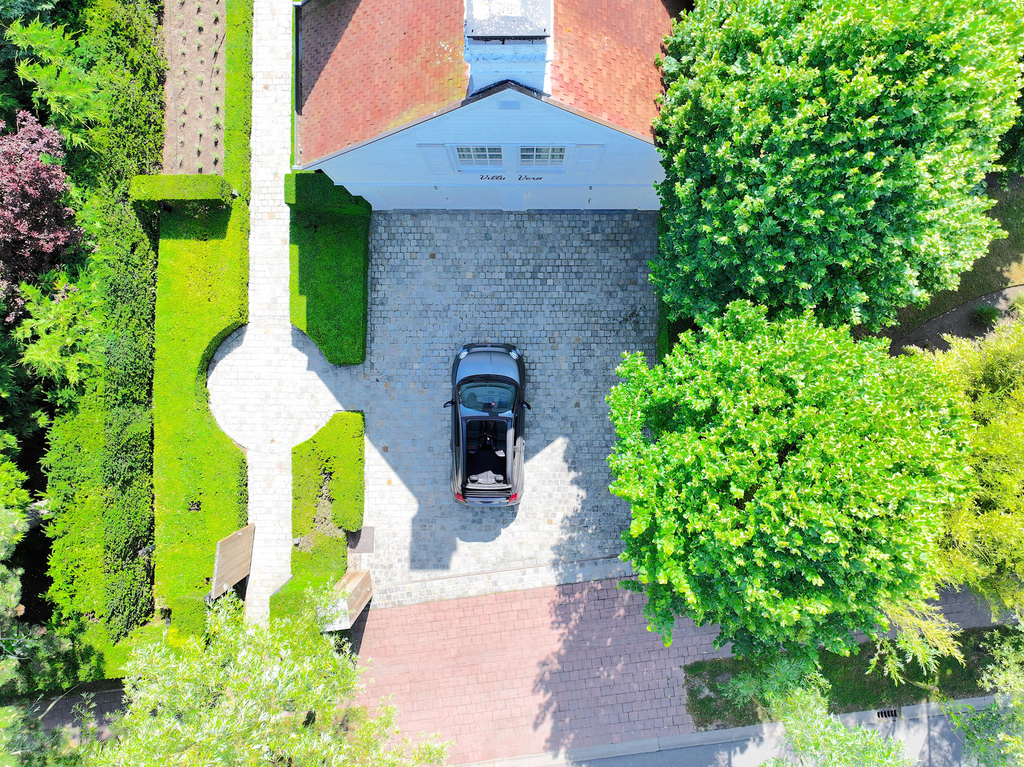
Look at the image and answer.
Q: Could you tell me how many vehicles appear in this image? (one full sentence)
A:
Just 1 vehicle appears in this view.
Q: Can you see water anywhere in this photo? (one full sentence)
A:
No, there is no water in the image.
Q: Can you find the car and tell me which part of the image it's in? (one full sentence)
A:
The car appears toward the center of the photo.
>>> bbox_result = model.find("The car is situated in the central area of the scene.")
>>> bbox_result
[442,343,532,508]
